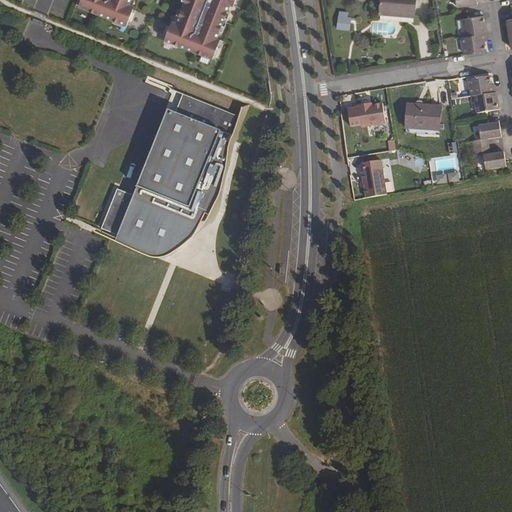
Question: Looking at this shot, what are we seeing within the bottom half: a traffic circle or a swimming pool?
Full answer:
You can see a traffic circle within the bottom half.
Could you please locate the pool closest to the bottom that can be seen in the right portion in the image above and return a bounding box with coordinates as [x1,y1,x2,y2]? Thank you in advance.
[430,152,460,184]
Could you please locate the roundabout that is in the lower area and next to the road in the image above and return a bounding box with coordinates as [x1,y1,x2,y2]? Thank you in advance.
[223,360,296,432]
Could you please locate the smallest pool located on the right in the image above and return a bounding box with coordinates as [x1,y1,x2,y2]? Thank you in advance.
[372,22,396,34]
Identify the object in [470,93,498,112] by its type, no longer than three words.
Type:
house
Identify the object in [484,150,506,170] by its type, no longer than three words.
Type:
house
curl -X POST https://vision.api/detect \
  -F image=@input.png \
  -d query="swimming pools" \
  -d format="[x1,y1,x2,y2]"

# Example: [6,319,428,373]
[372,22,396,34]
[430,152,460,184]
